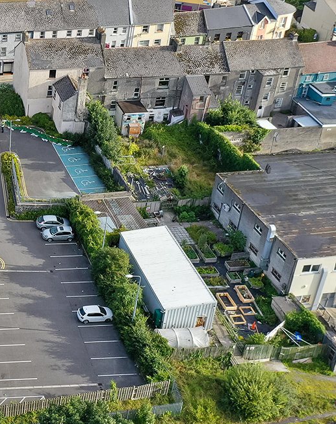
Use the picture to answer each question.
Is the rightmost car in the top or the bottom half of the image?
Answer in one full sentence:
The bottom half of the photo is where the rightmost car is.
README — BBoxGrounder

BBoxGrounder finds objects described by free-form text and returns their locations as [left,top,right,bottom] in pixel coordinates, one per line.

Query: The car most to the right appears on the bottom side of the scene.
[74,304,116,326]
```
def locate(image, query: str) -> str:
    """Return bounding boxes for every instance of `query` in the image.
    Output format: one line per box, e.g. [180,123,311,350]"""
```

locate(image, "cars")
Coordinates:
[39,225,76,243]
[32,214,73,231]
[74,304,116,326]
